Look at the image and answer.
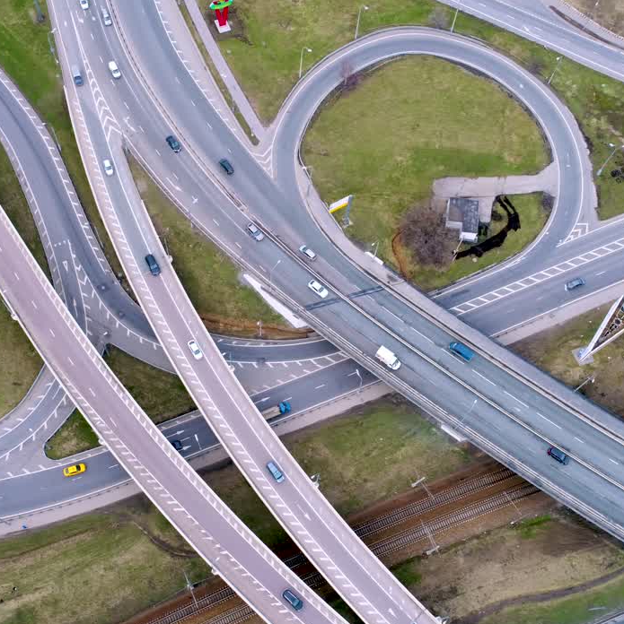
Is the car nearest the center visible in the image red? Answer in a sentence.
No, the car nearest the center is actually white.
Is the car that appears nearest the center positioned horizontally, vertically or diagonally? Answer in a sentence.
In this picture, the car that appears nearest the center lies diagonally.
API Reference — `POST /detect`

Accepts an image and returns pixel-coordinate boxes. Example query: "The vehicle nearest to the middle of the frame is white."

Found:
[306,278,328,299]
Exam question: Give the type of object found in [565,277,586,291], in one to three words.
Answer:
vehicle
